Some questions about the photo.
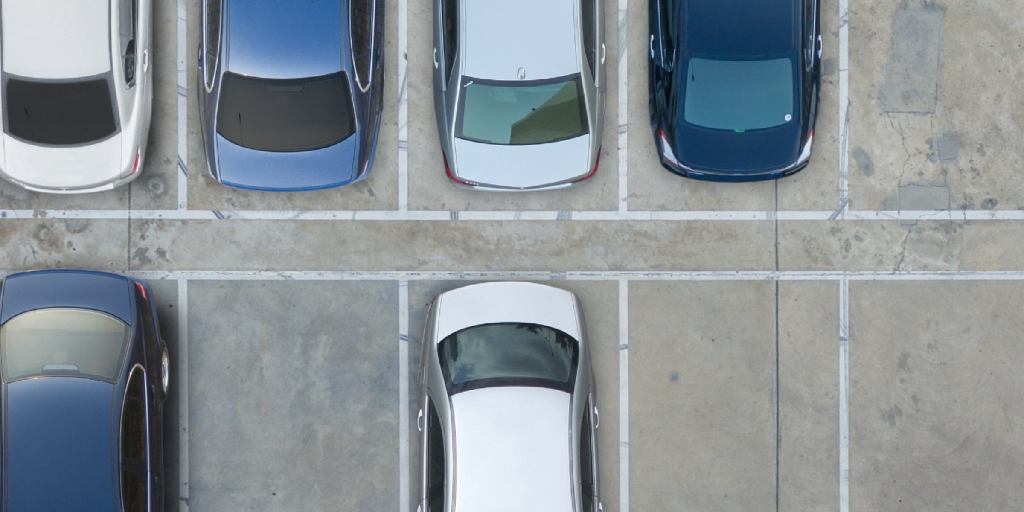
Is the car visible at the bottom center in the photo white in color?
Yes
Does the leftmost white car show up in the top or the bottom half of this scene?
top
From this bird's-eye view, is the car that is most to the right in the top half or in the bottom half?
top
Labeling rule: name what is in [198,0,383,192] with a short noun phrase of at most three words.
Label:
car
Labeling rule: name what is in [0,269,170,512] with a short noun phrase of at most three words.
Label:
car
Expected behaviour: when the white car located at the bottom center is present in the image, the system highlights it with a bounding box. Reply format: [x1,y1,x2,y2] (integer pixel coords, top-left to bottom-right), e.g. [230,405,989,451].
[420,281,600,512]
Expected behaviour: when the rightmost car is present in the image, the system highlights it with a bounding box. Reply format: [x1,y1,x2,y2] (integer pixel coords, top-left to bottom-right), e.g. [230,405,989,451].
[648,0,822,182]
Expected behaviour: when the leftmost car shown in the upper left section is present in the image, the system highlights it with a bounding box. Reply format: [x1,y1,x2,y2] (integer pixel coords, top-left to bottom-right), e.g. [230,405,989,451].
[0,0,155,194]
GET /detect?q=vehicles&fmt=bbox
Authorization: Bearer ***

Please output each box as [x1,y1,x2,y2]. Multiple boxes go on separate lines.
[0,269,170,512]
[0,0,155,194]
[198,0,383,192]
[648,0,822,182]
[433,0,603,192]
[420,281,600,512]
